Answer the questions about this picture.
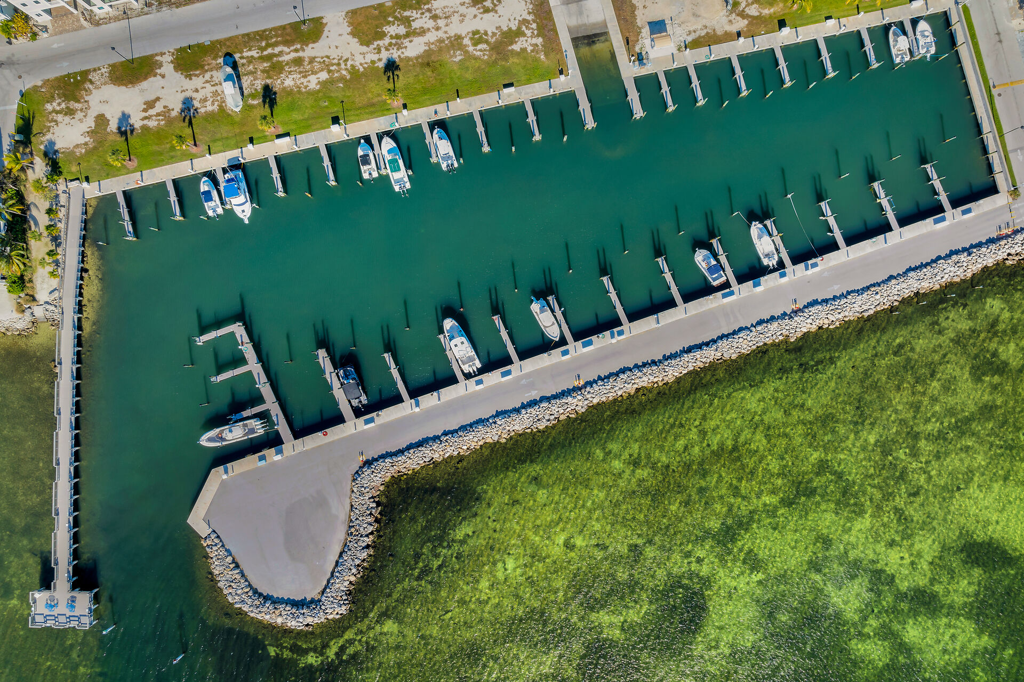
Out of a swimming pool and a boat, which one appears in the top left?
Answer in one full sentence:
Visible in the top left is a boat.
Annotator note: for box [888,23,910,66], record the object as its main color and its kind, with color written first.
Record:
white boat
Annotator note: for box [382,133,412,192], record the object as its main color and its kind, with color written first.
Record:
white boat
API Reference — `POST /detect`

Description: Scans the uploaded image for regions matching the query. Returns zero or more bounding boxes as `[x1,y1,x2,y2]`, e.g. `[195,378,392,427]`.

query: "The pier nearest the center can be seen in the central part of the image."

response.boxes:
[492,313,519,363]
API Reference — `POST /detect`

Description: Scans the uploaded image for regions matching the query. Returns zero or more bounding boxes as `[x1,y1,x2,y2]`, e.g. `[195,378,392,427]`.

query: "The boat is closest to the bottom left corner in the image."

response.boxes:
[196,420,266,447]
